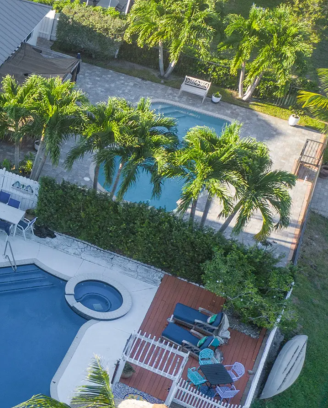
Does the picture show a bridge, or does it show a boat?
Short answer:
boat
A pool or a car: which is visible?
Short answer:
pool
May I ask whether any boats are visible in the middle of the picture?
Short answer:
No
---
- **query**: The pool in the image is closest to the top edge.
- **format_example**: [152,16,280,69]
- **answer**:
[93,96,245,215]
